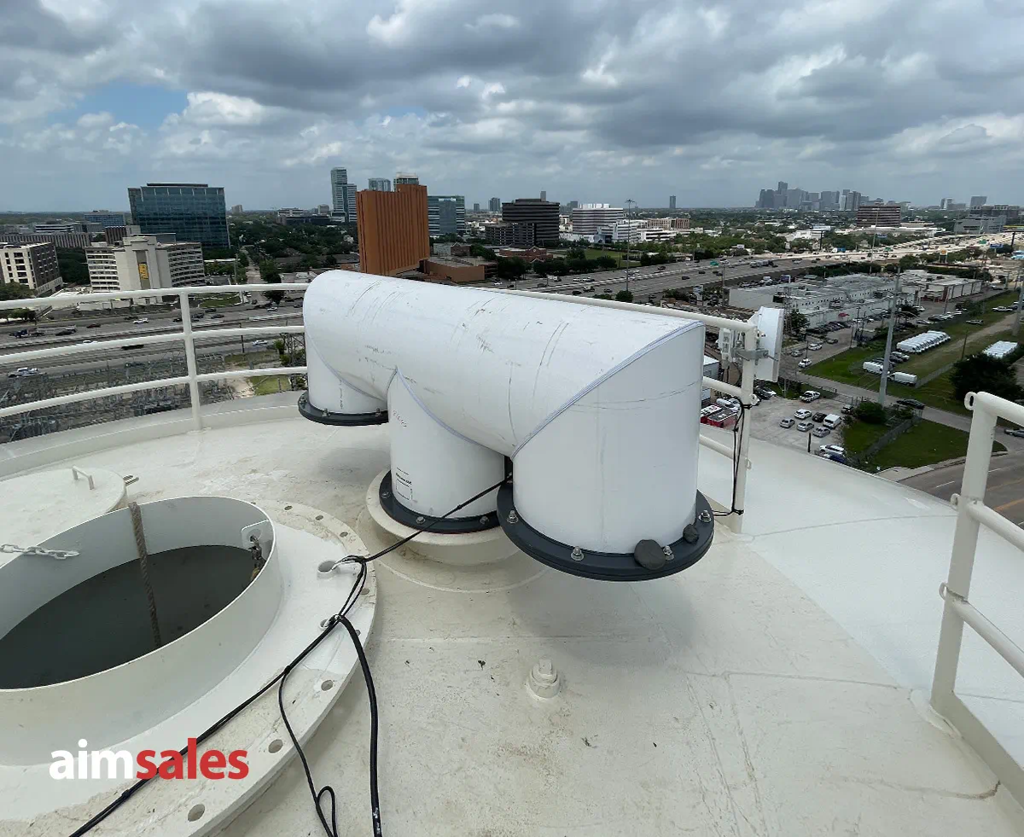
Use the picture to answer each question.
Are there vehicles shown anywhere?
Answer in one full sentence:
Yes, the picture does show a vehicle.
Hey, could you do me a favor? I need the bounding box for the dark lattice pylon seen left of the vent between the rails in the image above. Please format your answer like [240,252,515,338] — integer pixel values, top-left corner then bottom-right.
[281,339,297,387]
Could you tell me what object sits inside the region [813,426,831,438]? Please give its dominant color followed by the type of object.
gray vehicle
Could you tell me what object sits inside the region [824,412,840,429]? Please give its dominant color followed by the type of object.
white vehicle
